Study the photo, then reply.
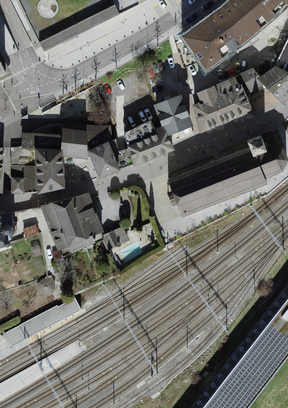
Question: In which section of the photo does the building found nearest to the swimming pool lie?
center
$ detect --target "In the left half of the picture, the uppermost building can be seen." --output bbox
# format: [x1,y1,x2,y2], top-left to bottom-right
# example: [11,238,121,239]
[40,0,120,52]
